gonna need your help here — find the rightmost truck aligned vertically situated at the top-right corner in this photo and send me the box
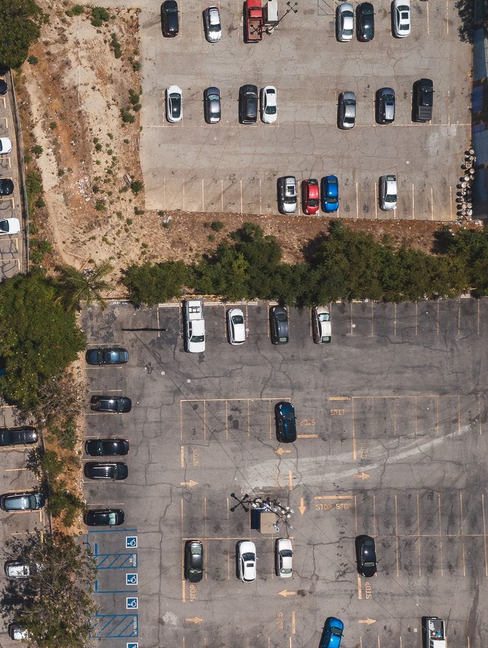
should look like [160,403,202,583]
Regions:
[413,79,435,124]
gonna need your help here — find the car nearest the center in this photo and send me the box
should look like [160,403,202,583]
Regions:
[228,308,246,345]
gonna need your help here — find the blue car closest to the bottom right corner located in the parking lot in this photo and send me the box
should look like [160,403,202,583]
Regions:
[320,617,343,648]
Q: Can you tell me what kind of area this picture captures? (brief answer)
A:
parking lot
